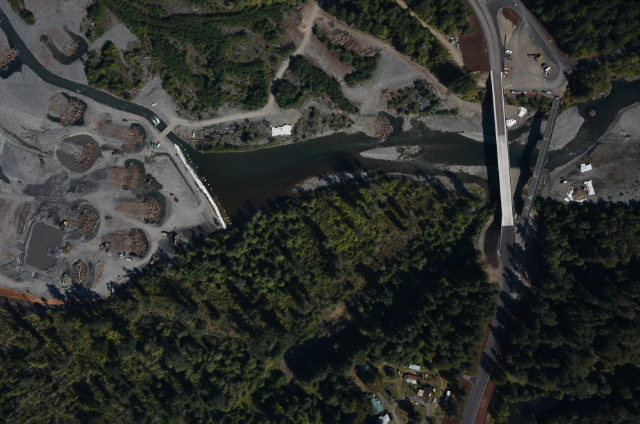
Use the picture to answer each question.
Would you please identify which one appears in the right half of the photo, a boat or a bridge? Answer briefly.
bridge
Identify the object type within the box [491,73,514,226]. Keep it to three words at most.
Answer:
bridge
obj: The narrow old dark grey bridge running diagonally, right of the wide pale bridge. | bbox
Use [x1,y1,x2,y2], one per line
[517,96,559,222]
